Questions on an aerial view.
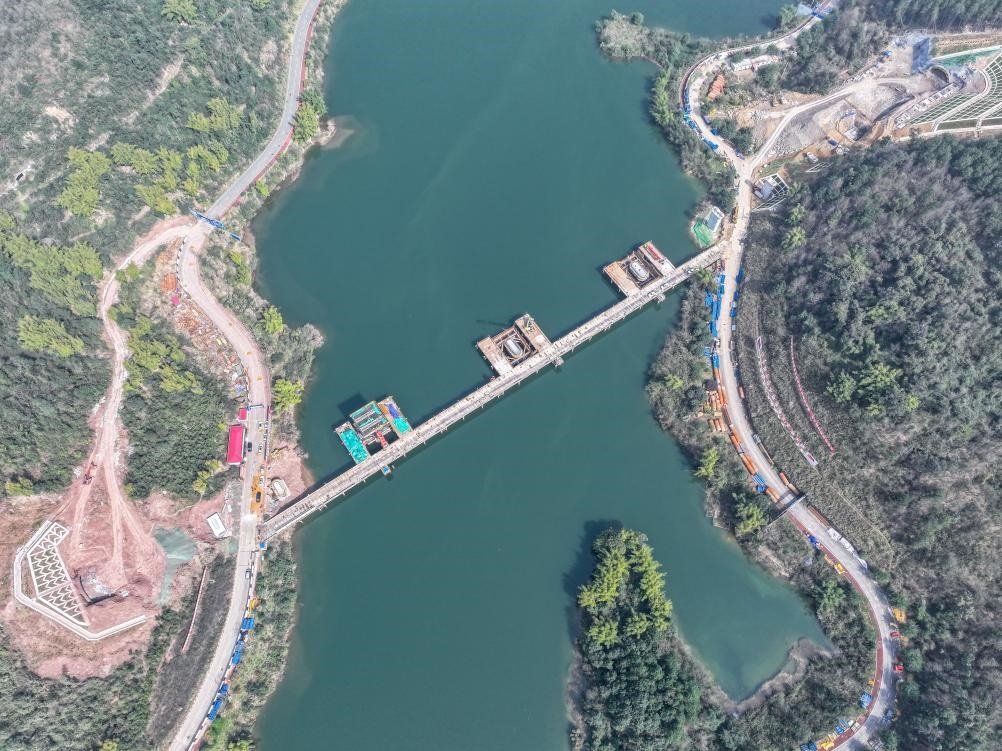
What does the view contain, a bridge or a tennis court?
bridge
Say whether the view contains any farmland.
No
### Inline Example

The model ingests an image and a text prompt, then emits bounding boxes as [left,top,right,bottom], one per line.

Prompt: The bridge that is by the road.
[253,242,730,542]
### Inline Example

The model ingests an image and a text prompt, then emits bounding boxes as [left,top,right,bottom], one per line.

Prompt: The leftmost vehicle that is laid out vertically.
[83,463,97,487]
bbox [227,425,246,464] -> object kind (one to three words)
building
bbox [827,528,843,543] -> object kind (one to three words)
vehicle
